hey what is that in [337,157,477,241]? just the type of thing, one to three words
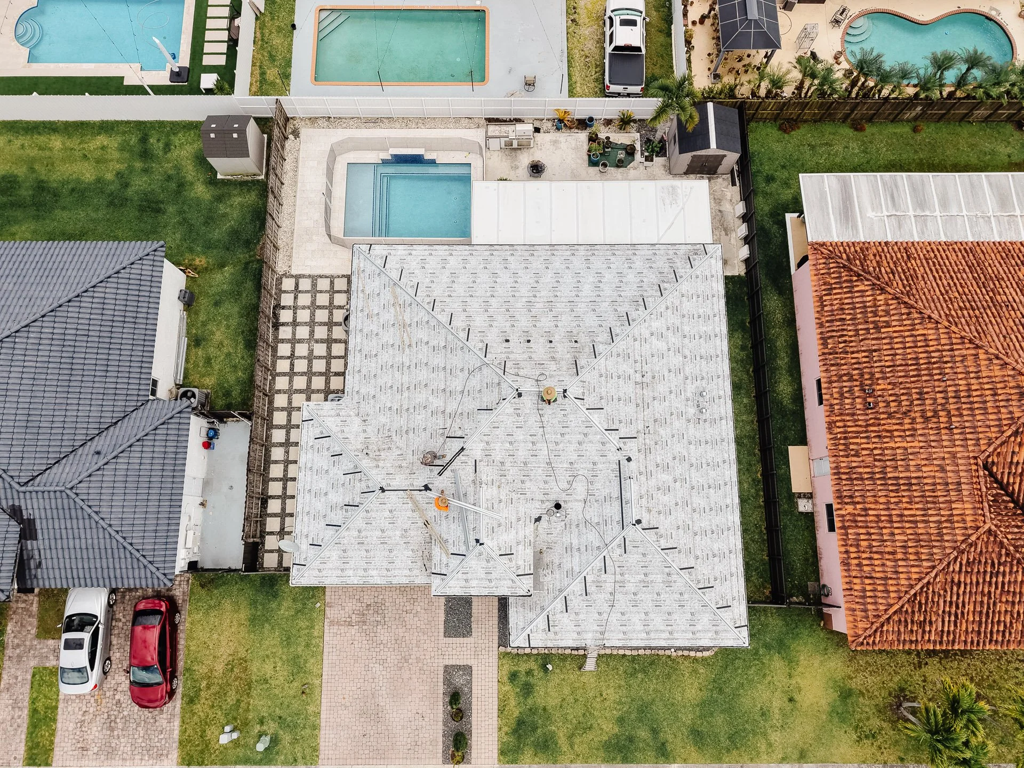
swimming pool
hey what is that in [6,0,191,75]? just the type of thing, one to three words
swimming pool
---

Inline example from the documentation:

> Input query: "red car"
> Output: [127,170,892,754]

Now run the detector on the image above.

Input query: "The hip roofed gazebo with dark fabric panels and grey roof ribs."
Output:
[709,0,781,76]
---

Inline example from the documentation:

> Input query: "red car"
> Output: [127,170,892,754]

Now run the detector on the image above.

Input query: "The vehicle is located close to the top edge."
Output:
[598,0,649,98]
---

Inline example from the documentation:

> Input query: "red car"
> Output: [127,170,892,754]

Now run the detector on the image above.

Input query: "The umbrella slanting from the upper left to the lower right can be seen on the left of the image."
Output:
[153,37,189,82]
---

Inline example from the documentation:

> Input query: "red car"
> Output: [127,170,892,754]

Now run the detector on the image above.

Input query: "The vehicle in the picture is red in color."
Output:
[120,598,179,708]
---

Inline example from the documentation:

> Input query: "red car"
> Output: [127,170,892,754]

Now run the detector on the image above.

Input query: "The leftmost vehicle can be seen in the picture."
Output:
[51,588,113,695]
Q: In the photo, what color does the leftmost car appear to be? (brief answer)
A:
white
